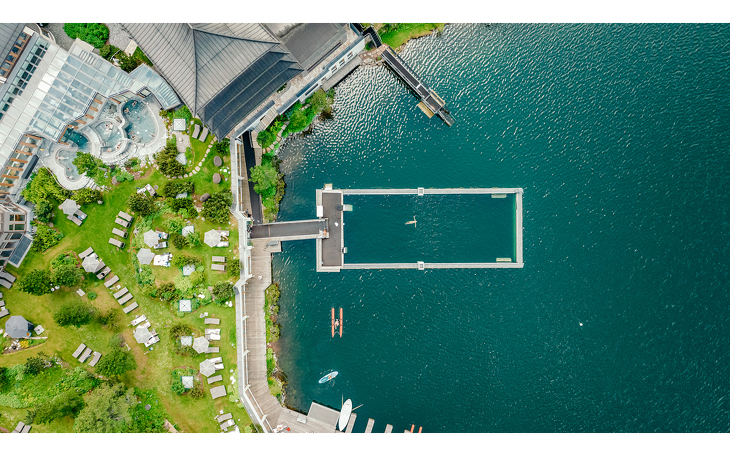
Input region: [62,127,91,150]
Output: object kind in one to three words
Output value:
swimming pool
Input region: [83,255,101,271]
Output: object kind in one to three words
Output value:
umbrella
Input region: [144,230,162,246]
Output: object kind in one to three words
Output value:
umbrella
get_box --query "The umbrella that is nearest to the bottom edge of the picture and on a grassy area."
[200,359,216,375]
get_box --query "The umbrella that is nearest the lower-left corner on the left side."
[6,315,33,338]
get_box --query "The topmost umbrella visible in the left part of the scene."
[61,199,82,215]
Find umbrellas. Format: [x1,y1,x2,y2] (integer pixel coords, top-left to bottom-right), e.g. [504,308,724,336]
[144,230,162,246]
[134,326,153,343]
[83,255,101,271]
[200,359,216,375]
[6,315,33,338]
[61,199,82,215]
[138,249,156,265]
[193,336,210,353]
[205,229,221,248]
